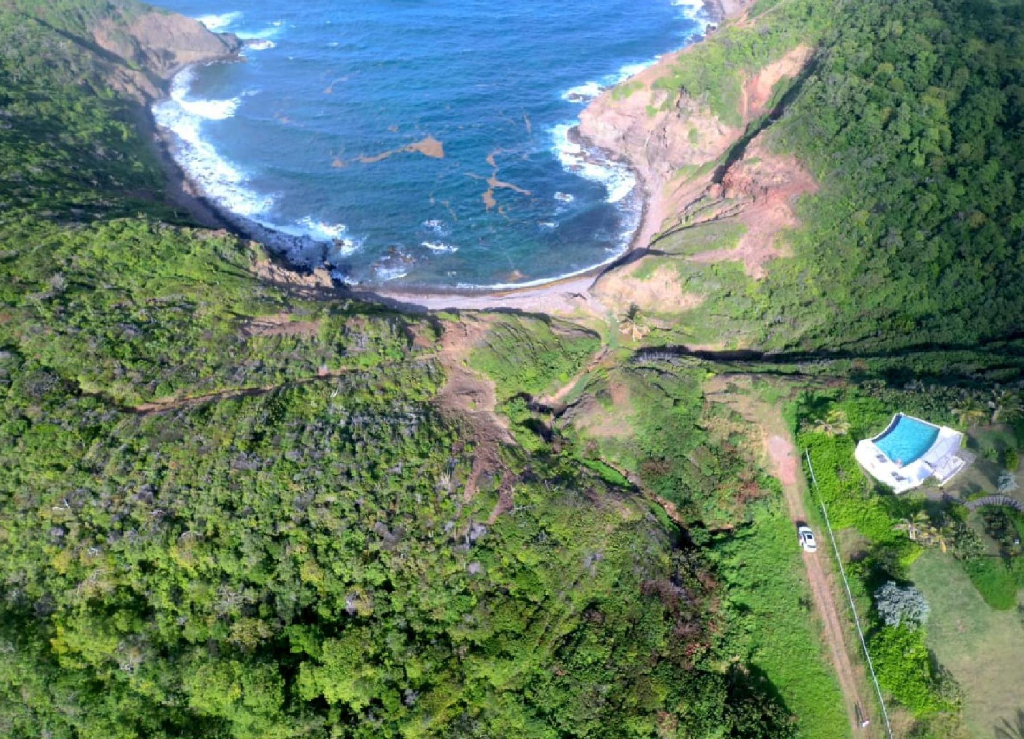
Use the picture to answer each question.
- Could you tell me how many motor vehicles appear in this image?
1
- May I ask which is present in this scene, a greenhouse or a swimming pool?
swimming pool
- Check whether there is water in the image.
Yes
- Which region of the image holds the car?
bottom right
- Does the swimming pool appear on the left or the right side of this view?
right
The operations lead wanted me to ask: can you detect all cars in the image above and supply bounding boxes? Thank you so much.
[794,525,816,554]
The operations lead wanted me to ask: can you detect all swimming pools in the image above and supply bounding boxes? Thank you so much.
[852,411,963,497]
